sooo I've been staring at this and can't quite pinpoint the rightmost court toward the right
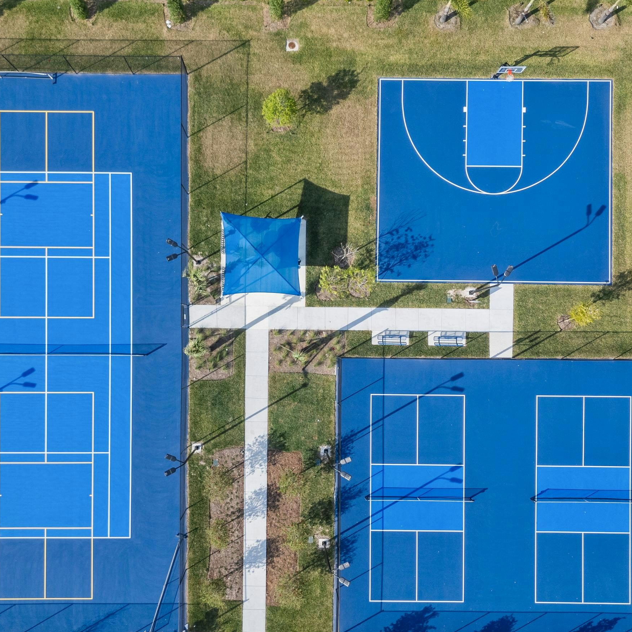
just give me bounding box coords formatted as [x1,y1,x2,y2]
[535,395,632,605]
